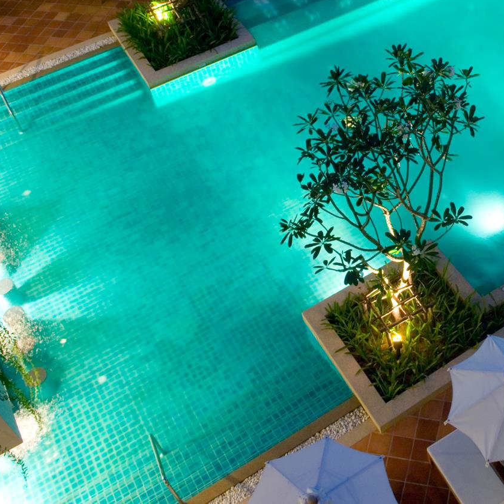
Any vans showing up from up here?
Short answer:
No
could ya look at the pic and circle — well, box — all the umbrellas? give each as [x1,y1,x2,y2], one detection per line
[250,433,399,504]
[441,336,504,475]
